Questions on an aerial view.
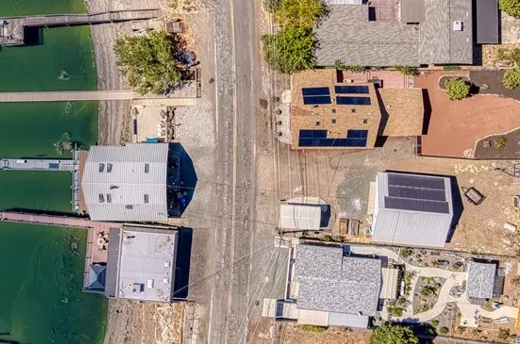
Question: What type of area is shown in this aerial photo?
residential area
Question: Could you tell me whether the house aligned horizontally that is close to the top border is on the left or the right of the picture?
right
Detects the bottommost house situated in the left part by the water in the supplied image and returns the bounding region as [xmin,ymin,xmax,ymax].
[107,226,180,302]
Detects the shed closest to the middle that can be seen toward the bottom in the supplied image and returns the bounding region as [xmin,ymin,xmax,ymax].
[279,205,321,230]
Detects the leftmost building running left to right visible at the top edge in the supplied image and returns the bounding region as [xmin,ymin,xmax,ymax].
[314,0,472,66]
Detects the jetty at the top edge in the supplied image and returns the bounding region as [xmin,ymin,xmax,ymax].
[0,5,159,47]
